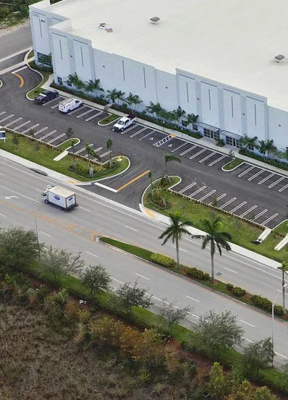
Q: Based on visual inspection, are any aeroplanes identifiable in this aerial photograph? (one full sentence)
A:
No, the photo shows no aeroplane.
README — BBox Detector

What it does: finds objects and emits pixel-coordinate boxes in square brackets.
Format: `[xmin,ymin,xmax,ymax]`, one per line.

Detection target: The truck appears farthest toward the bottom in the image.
[41,181,77,206]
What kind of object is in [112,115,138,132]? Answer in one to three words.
vehicle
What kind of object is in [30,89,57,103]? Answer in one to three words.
vehicle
